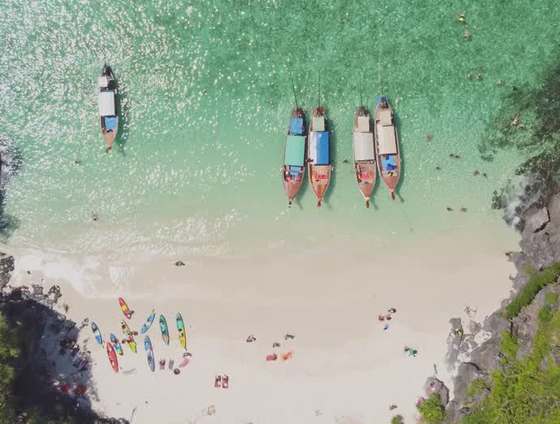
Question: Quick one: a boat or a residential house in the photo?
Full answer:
Of the two, only a boat appears.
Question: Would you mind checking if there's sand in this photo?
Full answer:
Yes, sand shows up in the scene.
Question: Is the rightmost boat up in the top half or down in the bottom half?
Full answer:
You can find the rightmost boat in the top half.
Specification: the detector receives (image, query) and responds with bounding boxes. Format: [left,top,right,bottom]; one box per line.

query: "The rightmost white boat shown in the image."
[377,67,402,203]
